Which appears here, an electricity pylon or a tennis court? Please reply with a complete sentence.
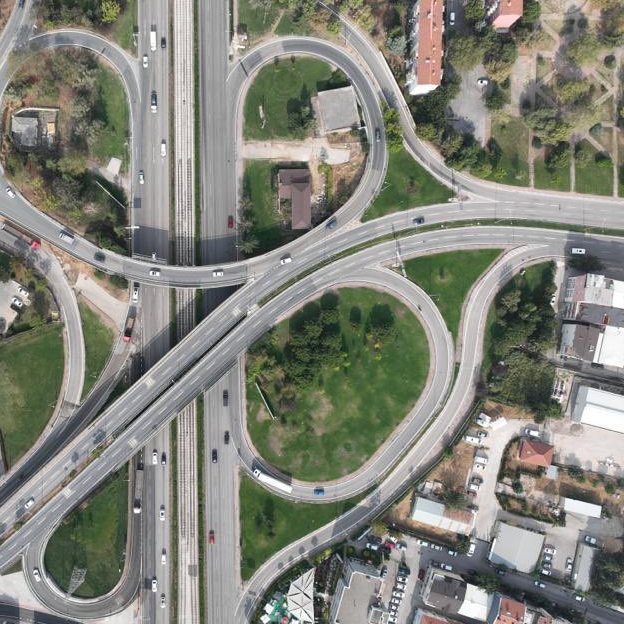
There is an electricity pylon in the scene.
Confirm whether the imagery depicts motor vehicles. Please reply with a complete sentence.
Yes, there is a motor vehicle in the image.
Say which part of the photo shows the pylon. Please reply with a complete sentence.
The pylon is located in the bottom left region of the scene.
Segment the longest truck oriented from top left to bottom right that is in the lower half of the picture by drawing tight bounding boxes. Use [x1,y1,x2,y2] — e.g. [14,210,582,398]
[254,467,293,495]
